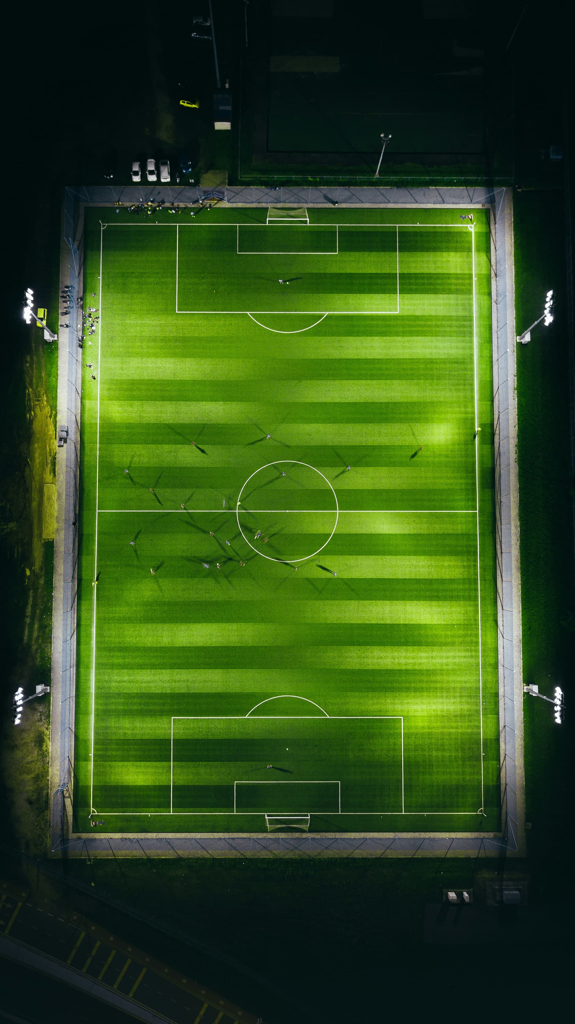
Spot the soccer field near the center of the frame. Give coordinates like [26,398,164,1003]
[72,207,502,832]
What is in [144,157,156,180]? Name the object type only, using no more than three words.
vehicle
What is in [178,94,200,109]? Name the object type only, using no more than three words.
car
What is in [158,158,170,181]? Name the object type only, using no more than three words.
vehicle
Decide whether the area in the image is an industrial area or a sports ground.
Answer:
sports ground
